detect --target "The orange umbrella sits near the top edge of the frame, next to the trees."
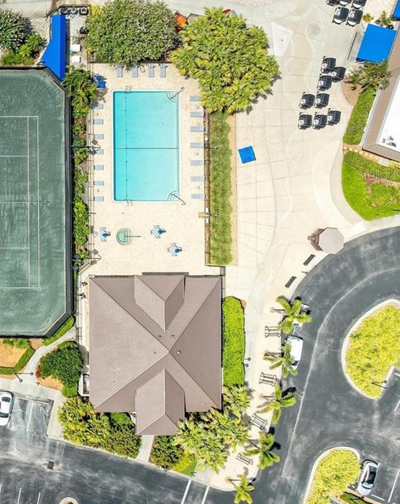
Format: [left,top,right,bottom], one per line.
[173,16,187,29]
